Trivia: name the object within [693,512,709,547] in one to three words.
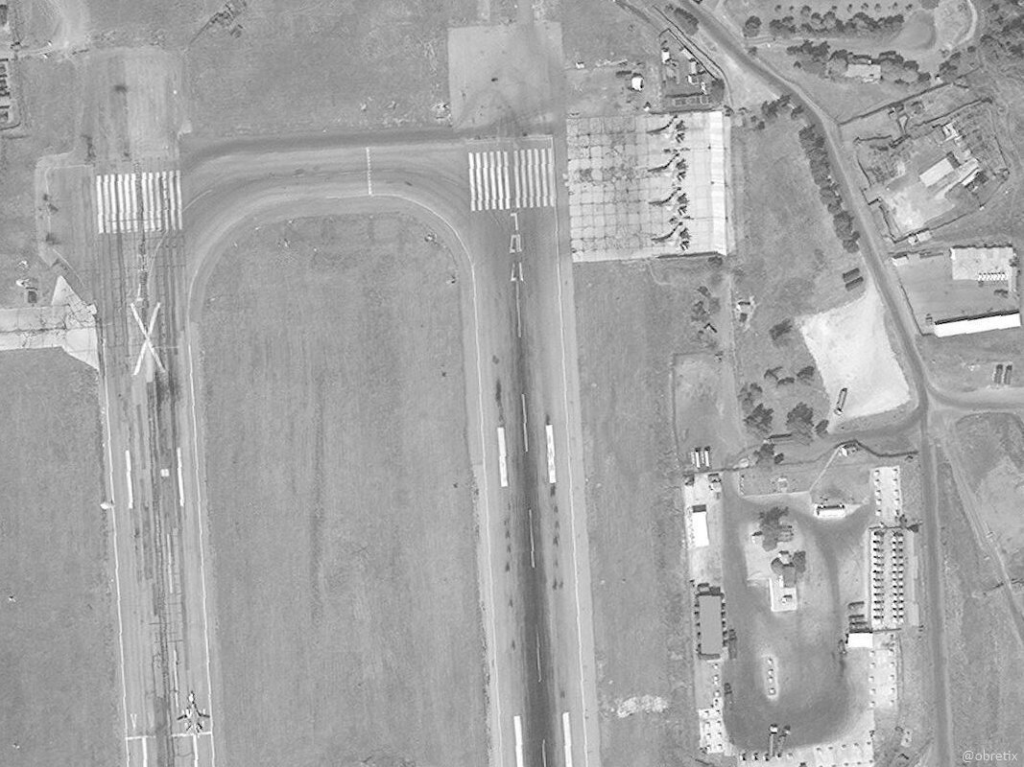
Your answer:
building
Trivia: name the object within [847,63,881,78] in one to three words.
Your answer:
house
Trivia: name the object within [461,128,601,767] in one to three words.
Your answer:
runway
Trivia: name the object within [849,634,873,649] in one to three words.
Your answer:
building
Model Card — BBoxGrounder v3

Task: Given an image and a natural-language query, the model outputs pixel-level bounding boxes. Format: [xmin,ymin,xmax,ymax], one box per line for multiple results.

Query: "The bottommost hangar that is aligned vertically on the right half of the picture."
[696,596,724,655]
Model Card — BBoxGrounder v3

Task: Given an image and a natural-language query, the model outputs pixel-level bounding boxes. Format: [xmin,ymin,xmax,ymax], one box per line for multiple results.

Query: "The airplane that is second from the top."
[649,158,690,187]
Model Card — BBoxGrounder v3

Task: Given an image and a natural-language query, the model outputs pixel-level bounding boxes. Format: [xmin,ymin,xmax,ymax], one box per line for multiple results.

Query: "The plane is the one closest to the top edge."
[647,120,689,149]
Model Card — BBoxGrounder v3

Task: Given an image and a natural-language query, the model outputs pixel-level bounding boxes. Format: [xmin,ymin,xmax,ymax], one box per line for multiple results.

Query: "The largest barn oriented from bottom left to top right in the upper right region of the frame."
[921,158,954,186]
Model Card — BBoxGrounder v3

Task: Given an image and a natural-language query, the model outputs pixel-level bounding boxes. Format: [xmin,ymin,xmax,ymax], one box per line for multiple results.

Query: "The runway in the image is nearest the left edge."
[88,164,225,767]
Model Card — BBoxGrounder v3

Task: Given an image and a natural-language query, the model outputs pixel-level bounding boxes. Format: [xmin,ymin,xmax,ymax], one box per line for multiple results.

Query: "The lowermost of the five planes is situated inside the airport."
[180,696,211,735]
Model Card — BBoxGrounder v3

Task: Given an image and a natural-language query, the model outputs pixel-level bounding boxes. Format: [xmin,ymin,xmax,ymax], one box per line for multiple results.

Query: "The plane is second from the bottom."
[652,227,693,256]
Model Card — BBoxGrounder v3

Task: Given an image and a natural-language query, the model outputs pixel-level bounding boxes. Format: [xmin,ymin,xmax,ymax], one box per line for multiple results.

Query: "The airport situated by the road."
[0,22,727,767]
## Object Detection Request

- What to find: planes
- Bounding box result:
[651,191,690,220]
[649,158,690,187]
[180,696,211,735]
[652,227,693,256]
[647,120,689,149]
